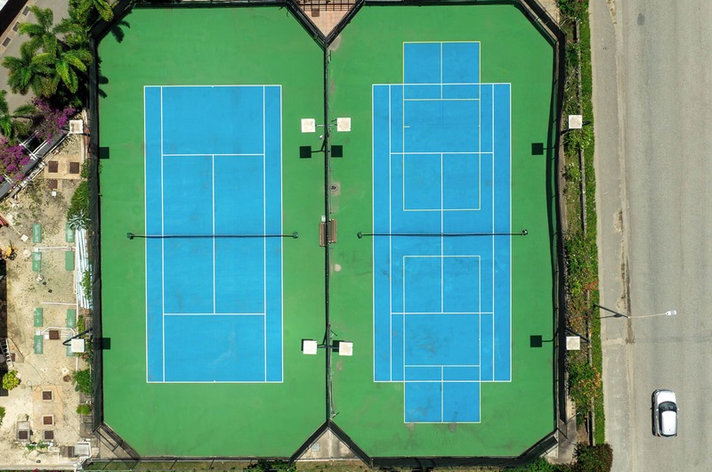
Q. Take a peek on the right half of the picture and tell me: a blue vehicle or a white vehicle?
white vehicle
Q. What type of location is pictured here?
sports ground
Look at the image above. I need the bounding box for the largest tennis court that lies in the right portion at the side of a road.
[327,3,558,456]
